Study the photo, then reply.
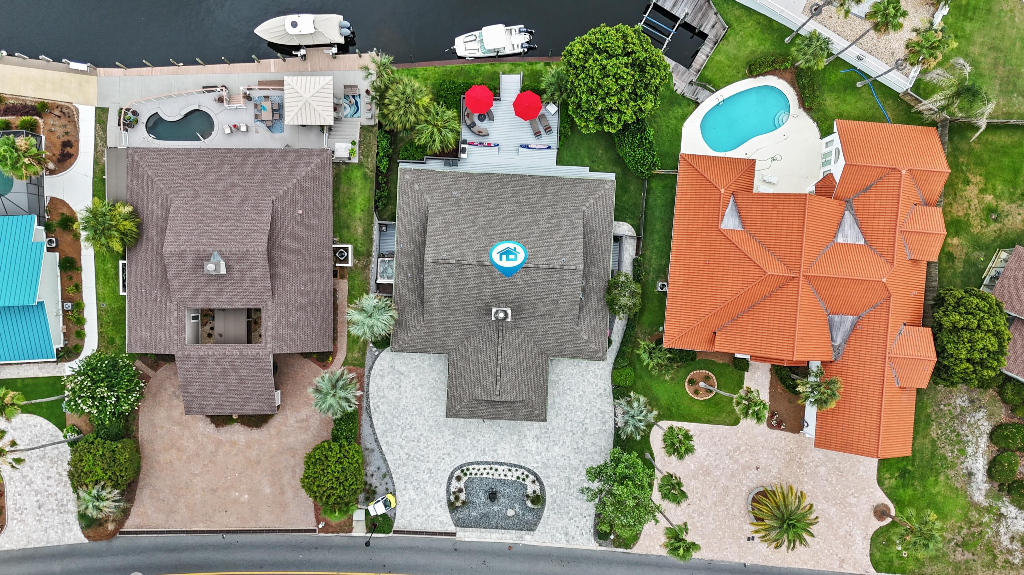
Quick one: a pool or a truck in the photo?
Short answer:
pool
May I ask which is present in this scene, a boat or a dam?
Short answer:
boat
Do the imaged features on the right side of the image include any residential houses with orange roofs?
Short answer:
Yes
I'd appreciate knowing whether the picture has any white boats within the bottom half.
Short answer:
No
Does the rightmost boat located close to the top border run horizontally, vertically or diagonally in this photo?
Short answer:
horizontally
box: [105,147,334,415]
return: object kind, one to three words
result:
house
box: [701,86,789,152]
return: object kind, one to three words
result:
swimming pool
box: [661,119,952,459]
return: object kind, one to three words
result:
house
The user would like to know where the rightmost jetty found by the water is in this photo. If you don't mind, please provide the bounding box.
[654,0,728,96]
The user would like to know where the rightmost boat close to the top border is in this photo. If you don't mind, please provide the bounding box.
[447,21,540,58]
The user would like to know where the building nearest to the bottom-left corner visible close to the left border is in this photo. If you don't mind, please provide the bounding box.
[0,214,68,364]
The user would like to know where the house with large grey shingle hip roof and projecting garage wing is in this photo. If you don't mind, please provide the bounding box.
[389,166,616,423]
